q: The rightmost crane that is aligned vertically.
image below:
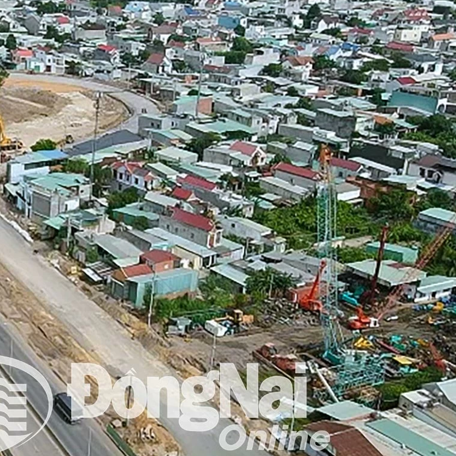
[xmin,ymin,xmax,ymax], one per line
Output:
[357,224,387,311]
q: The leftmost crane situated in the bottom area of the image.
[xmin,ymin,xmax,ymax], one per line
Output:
[299,261,335,316]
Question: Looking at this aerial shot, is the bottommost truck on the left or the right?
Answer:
left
